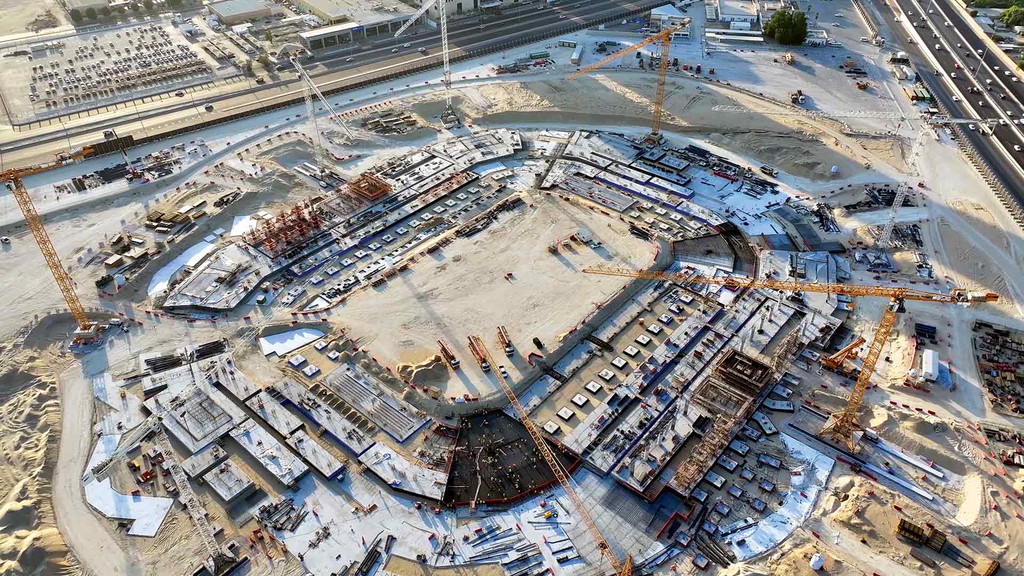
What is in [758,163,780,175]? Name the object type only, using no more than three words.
vehicle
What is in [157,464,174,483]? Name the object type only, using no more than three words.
work vehicle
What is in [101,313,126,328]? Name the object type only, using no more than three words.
vehicle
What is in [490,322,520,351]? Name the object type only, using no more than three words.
truck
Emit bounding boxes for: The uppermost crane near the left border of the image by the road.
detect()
[0,161,101,349]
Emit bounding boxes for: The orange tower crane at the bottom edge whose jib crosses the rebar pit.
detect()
[469,335,636,576]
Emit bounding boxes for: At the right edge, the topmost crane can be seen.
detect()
[713,107,1002,272]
